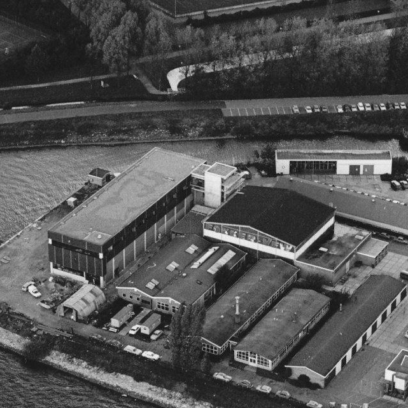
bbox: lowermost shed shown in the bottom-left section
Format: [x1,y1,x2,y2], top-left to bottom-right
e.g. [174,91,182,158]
[57,289,99,320]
